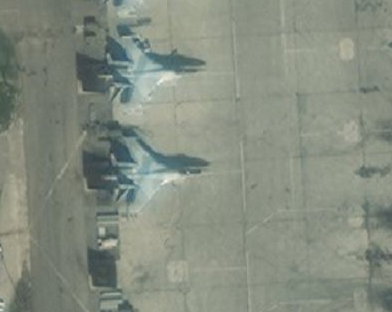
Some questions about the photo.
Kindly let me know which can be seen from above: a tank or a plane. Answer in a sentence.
The image shows a plane.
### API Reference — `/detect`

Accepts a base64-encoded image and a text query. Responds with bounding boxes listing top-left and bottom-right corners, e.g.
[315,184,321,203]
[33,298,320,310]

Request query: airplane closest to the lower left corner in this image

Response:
[103,138,211,215]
